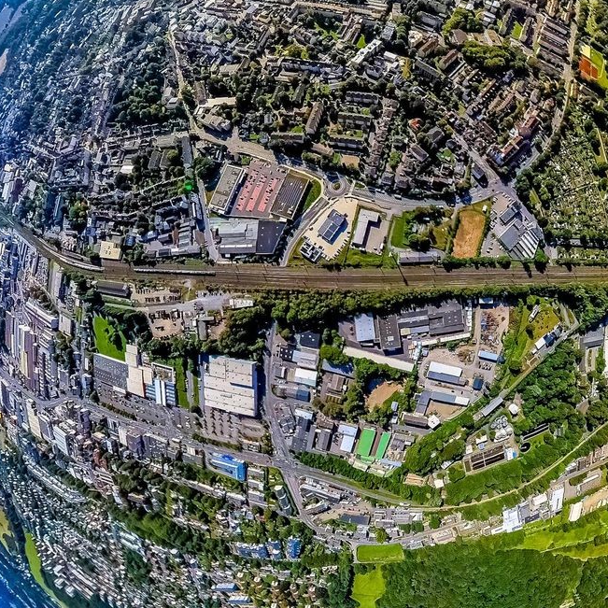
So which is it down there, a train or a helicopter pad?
train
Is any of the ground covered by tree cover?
Yes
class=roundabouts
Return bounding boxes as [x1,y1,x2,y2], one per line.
[321,172,352,200]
